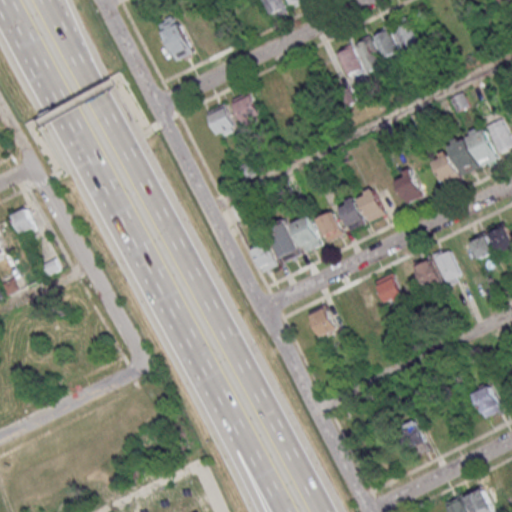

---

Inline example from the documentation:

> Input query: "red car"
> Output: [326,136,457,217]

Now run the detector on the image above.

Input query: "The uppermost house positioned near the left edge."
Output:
[10,206,40,236]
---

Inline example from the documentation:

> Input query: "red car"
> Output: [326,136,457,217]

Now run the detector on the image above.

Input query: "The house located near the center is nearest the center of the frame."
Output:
[252,242,280,273]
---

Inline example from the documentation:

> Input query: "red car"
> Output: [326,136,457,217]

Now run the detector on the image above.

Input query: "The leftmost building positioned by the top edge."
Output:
[160,17,194,63]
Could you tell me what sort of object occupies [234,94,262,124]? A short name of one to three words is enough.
house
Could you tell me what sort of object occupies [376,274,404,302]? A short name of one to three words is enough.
house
